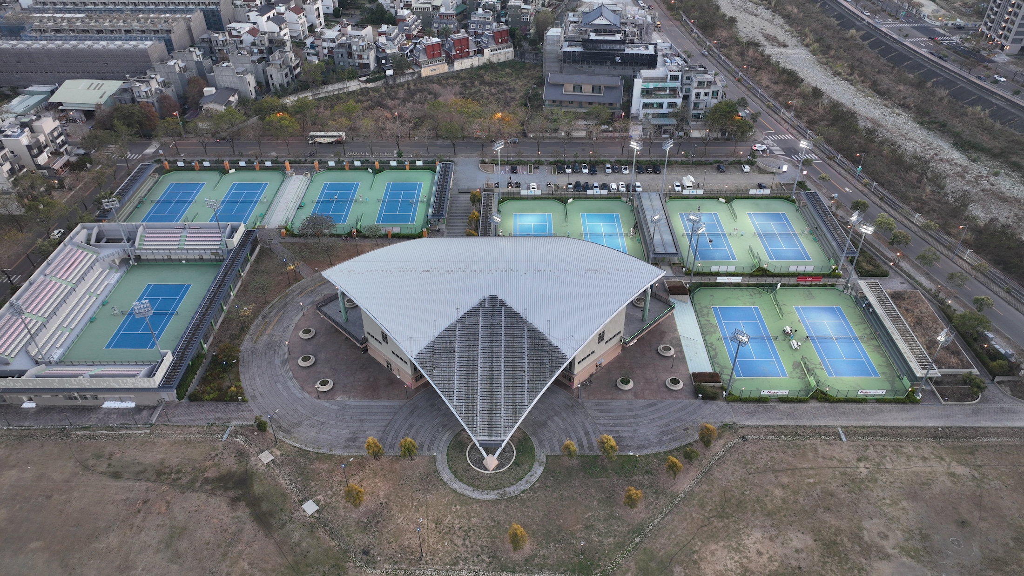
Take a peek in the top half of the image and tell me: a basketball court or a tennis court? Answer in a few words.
tennis court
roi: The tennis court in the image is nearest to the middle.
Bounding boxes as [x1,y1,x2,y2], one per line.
[498,199,569,237]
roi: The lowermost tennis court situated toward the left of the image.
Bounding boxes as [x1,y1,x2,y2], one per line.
[59,258,227,362]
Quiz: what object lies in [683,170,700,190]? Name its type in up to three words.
vehicle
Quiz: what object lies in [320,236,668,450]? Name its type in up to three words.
building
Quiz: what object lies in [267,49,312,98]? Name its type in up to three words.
house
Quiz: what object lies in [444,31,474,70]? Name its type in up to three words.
house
